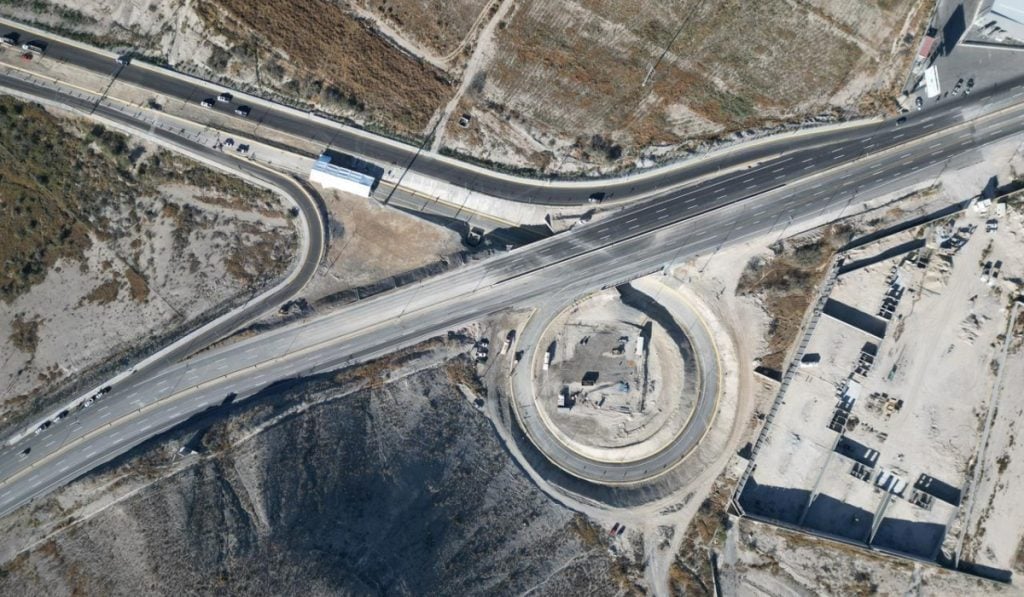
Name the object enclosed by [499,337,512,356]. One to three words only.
vehicle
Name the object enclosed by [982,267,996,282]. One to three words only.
vehicle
